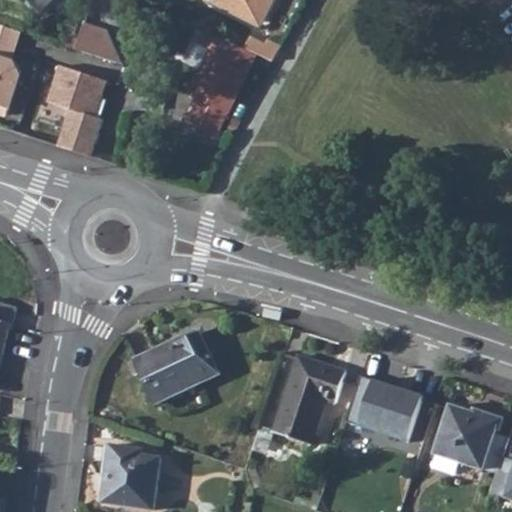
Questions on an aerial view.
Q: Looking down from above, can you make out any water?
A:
No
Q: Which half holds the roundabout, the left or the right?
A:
left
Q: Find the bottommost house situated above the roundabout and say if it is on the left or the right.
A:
left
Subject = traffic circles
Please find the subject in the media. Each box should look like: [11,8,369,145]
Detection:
[55,185,167,289]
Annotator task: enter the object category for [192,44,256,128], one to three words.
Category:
house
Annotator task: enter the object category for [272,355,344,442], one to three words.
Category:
house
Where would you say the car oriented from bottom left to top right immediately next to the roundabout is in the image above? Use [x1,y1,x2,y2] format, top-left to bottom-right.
[110,285,127,306]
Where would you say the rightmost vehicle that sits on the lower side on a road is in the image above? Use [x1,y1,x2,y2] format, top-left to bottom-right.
[462,337,482,350]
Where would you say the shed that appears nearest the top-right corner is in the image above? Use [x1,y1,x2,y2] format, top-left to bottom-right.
[246,36,281,62]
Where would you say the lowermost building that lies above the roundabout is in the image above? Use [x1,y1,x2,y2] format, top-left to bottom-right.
[56,108,102,155]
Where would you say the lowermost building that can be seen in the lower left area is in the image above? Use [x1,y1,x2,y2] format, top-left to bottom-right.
[98,444,162,509]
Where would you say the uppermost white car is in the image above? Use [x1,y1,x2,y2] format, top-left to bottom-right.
[212,238,236,252]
